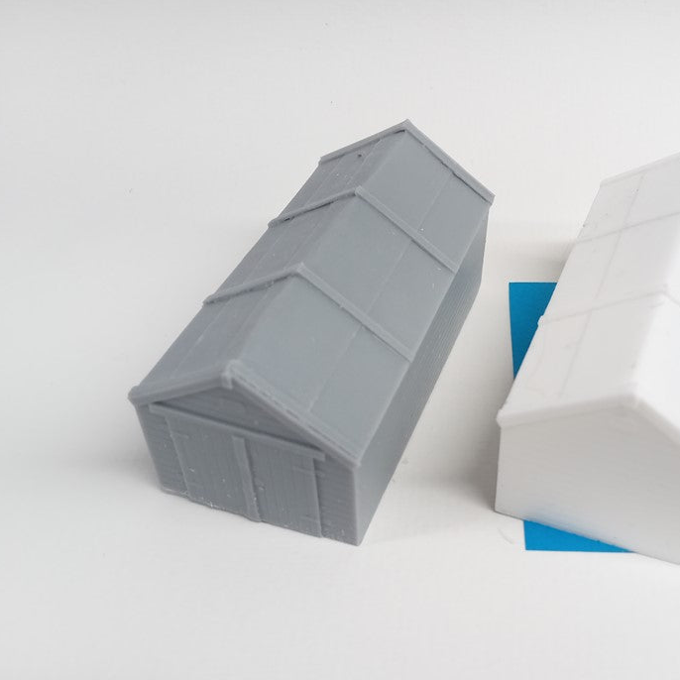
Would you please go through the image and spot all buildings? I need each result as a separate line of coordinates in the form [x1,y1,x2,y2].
[496,153,680,562]
[127,119,497,545]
